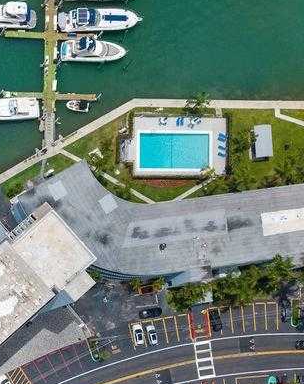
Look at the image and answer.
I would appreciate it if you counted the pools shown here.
1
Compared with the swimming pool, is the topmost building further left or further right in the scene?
to its right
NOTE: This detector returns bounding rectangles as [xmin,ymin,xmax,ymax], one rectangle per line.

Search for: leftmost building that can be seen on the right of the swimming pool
[247,125,272,163]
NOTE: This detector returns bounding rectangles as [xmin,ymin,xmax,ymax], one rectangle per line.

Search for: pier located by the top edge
[0,0,98,116]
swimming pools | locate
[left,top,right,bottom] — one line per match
[119,118,225,175]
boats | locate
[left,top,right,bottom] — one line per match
[0,0,36,31]
[0,97,41,124]
[59,34,126,63]
[64,102,89,115]
[57,5,142,34]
